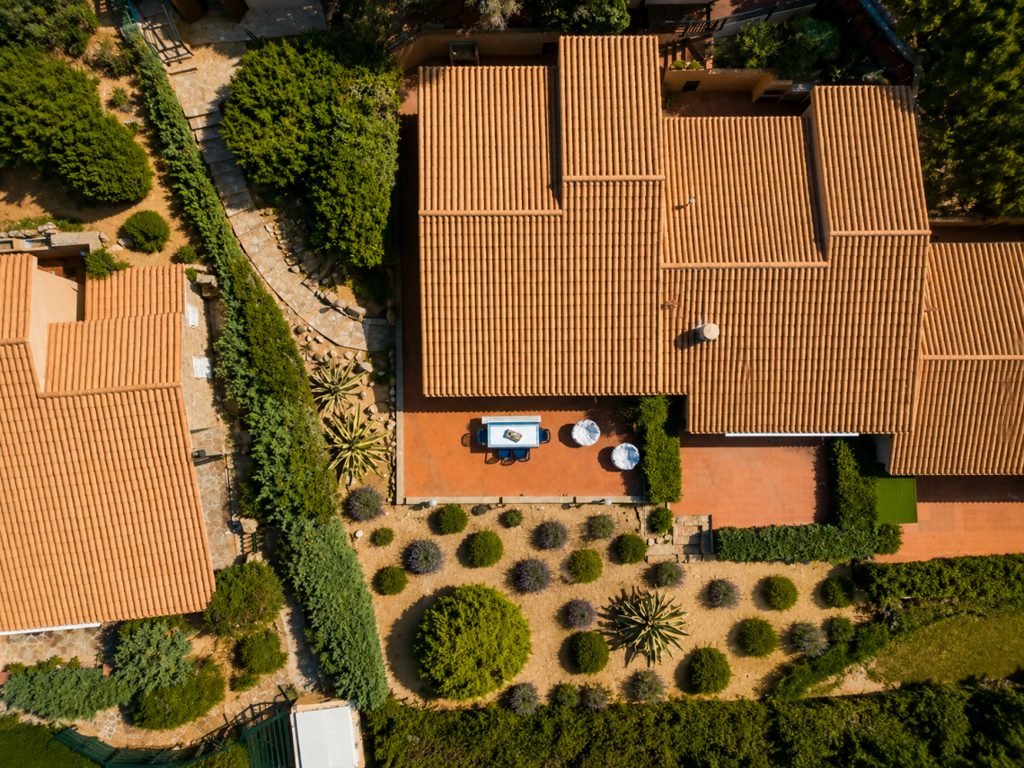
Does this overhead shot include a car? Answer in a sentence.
No, I can see no car in this picture.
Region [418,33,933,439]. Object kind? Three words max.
house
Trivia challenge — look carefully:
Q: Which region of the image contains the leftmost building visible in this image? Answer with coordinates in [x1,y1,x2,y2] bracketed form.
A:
[0,257,234,628]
